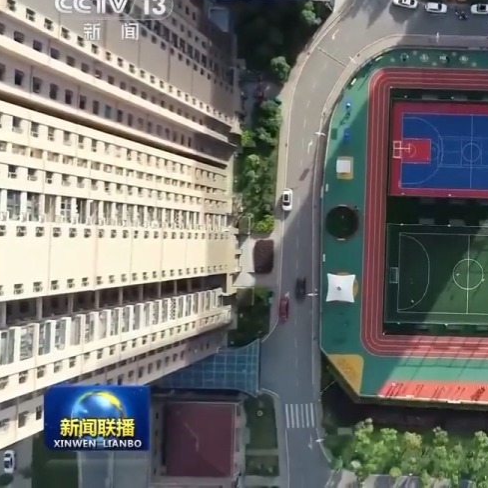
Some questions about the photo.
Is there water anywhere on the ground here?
No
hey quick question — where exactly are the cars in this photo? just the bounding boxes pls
[470,4,488,15]
[425,3,448,14]
[278,298,289,322]
[2,449,16,472]
[392,0,417,9]
[295,276,307,300]
[282,188,293,212]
